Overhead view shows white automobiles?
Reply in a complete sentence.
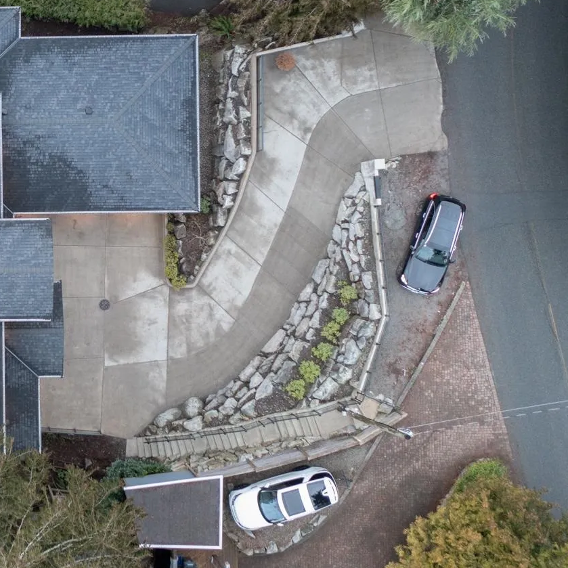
Yes, you can see a white automobile in this photo.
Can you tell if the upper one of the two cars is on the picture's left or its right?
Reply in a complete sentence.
The upper one of the two cars appears in the right half of the scene.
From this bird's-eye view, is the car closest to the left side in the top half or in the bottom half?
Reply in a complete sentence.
It is in the bottom half that the car closest to the left side appears.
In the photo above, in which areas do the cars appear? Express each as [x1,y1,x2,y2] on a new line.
[395,193,469,297]
[227,463,339,530]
